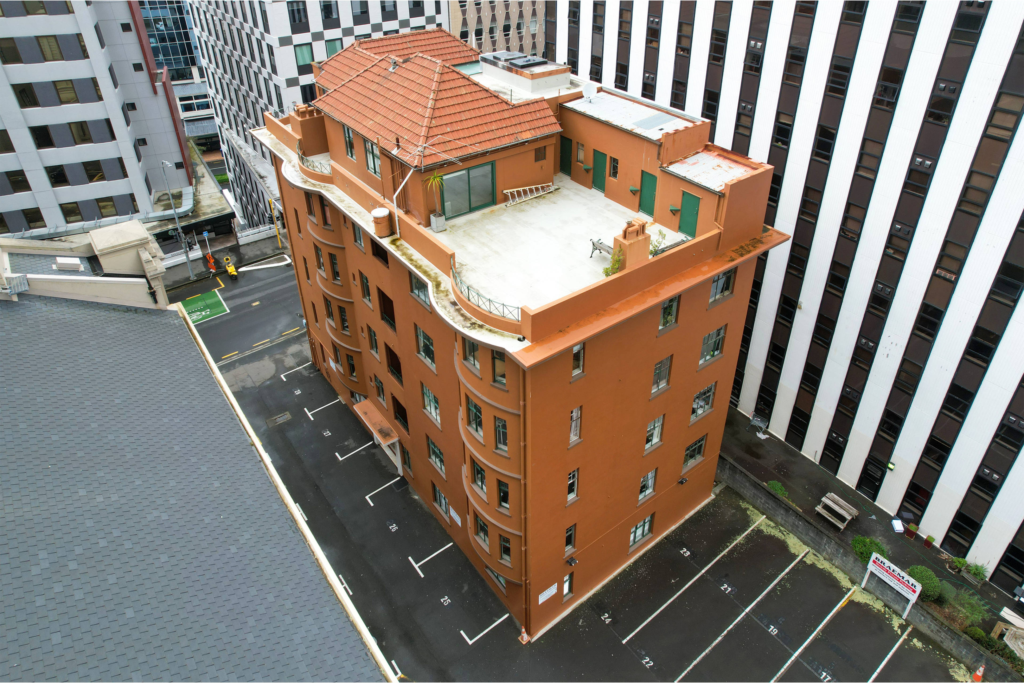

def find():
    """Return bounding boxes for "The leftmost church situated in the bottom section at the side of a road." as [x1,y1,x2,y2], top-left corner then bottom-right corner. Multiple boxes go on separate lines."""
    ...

[0,219,392,683]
